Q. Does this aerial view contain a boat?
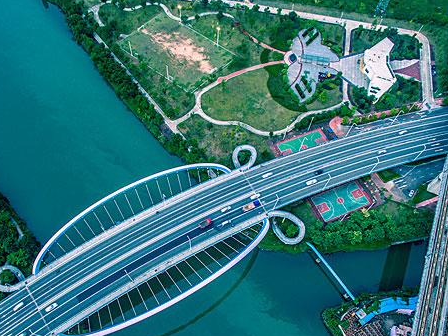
No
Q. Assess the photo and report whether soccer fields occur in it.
Yes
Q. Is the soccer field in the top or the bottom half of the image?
top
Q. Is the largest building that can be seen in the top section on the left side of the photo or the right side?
right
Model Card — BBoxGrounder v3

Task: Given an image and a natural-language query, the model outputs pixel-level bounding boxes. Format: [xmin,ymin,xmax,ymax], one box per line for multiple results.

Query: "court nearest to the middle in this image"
[270,125,330,158]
